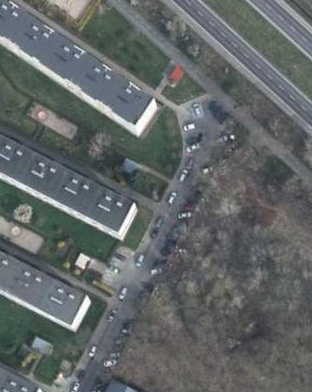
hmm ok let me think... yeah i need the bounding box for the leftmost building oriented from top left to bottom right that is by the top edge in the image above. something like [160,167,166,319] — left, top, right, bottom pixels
[0,0,154,135]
